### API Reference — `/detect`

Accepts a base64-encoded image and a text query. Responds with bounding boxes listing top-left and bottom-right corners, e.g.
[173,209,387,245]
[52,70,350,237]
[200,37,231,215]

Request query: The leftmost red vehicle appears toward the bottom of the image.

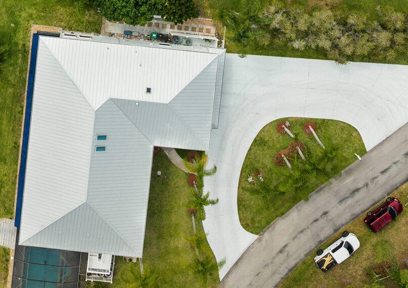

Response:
[361,198,401,233]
